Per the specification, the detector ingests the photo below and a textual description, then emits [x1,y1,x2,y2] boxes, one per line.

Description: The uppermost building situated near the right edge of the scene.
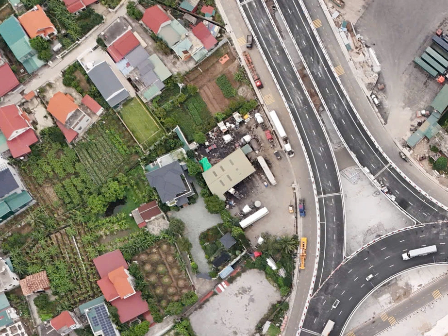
[431,83,448,116]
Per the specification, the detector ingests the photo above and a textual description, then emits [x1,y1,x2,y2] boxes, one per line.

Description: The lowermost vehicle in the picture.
[321,319,335,336]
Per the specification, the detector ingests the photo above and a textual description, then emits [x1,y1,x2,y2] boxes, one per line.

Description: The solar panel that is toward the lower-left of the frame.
[97,306,116,336]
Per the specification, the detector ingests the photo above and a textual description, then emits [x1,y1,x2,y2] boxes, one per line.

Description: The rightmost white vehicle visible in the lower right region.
[401,244,438,261]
